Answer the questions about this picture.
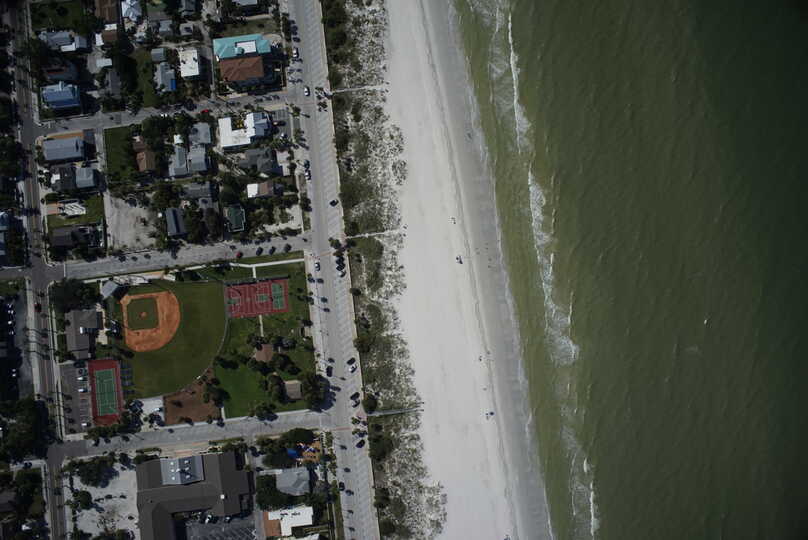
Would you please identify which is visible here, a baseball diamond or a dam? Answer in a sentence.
Visible in the photo is a baseball diamond.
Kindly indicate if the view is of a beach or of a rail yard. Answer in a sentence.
This image shows a beach.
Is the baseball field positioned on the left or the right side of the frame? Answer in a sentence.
You can find the baseball field on the left side of the picture.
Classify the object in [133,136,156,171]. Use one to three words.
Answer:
house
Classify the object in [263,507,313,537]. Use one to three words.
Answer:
house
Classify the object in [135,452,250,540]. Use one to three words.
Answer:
building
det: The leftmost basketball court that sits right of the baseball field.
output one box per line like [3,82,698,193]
[226,279,290,318]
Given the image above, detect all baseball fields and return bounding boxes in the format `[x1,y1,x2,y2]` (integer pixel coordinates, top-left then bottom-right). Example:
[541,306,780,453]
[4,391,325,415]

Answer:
[119,282,227,399]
